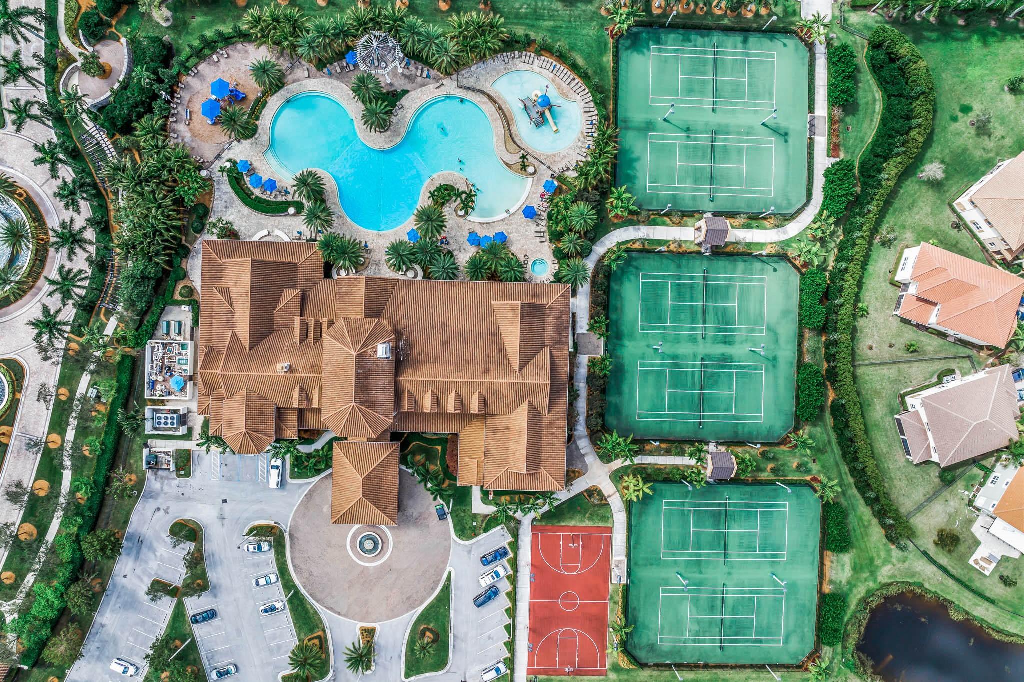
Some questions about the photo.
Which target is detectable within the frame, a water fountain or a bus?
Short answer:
water fountain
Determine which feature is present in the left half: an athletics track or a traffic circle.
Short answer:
traffic circle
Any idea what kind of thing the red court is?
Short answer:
basketball court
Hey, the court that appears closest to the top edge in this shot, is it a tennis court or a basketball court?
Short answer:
tennis court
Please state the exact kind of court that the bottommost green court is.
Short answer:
tennis court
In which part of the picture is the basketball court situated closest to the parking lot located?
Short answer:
bottom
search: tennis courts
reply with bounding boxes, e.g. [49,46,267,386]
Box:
[628,484,820,574]
[615,119,808,214]
[608,253,799,350]
[617,28,809,125]
[626,573,818,664]
[605,345,797,441]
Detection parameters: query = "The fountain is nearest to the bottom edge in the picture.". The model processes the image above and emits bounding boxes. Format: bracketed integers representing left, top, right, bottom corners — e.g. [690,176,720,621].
[346,525,392,567]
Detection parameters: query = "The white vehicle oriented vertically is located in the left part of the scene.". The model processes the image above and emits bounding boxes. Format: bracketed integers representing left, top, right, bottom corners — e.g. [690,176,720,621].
[268,460,281,489]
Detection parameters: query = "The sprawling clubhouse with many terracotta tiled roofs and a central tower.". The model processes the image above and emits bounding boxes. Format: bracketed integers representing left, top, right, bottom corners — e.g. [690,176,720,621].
[198,240,571,526]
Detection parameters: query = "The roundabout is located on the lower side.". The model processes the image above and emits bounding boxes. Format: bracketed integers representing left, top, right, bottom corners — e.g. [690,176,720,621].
[0,350,30,504]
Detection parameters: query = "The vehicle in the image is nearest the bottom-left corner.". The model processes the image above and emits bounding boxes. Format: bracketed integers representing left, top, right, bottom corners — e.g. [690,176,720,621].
[107,660,136,677]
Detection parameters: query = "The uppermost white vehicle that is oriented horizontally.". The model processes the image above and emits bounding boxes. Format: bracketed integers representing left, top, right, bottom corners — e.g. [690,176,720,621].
[243,542,270,554]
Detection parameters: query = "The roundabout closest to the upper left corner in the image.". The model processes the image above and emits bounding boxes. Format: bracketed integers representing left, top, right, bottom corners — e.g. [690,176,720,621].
[0,168,61,321]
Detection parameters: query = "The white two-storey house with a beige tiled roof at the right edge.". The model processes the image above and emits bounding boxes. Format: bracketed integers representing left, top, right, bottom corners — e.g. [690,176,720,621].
[957,145,1024,264]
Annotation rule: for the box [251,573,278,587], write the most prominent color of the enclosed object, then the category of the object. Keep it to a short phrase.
white car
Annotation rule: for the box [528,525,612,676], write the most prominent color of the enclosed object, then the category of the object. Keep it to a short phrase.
red basketball court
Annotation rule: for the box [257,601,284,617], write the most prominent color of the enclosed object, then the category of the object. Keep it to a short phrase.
white car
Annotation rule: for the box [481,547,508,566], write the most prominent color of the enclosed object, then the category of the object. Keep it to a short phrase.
blue car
